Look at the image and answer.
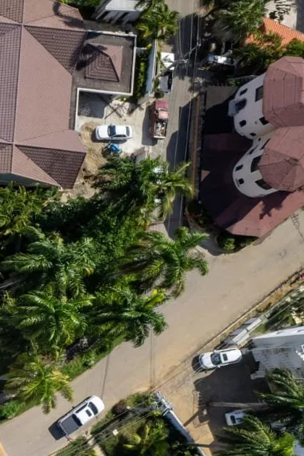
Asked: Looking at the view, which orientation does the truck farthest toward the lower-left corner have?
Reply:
at an angle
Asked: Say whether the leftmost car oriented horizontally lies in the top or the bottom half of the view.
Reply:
top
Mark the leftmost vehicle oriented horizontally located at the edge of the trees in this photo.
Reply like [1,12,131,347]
[90,123,132,143]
